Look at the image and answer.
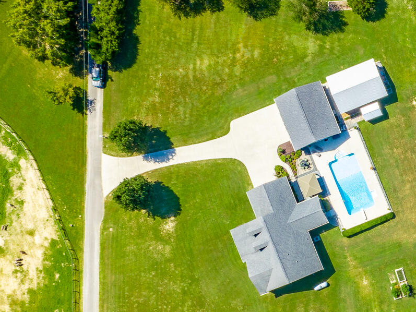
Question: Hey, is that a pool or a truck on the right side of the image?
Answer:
pool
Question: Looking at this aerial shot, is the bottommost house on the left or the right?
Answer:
right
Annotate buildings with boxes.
[361,102,382,120]
[326,58,388,113]
[229,175,330,296]
[274,81,342,151]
